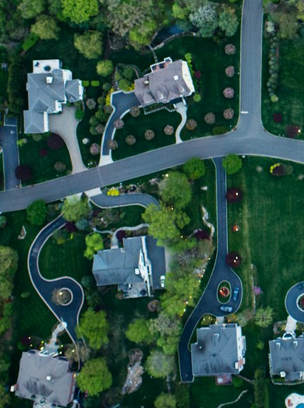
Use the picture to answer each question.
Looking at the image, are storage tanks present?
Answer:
No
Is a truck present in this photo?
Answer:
No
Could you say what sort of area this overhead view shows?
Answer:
residential area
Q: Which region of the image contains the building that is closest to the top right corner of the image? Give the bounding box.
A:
[133,57,194,109]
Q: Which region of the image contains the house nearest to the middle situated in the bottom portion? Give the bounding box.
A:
[92,236,153,296]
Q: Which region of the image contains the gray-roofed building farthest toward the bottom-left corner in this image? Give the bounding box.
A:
[10,348,79,408]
